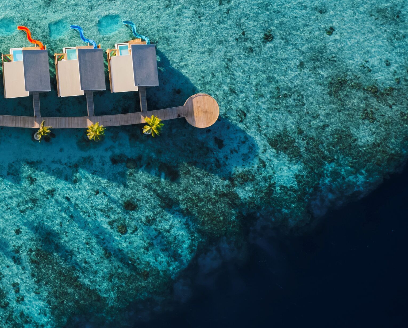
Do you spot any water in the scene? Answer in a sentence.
Yes, some water is visible.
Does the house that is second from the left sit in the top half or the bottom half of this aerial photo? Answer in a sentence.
You can find the house that is second from the left in the top half.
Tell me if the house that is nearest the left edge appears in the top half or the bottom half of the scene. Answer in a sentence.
The top half of the photo is where the house that is nearest the left edge is.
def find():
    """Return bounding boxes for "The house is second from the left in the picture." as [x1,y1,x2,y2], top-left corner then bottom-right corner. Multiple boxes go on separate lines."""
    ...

[55,25,106,97]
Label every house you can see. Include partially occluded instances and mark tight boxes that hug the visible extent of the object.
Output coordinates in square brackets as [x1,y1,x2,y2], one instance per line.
[1,26,51,98]
[107,20,159,92]
[55,25,106,97]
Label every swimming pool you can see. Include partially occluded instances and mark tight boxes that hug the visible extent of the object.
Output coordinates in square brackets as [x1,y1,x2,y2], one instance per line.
[114,42,129,55]
[10,48,23,61]
[63,46,77,59]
